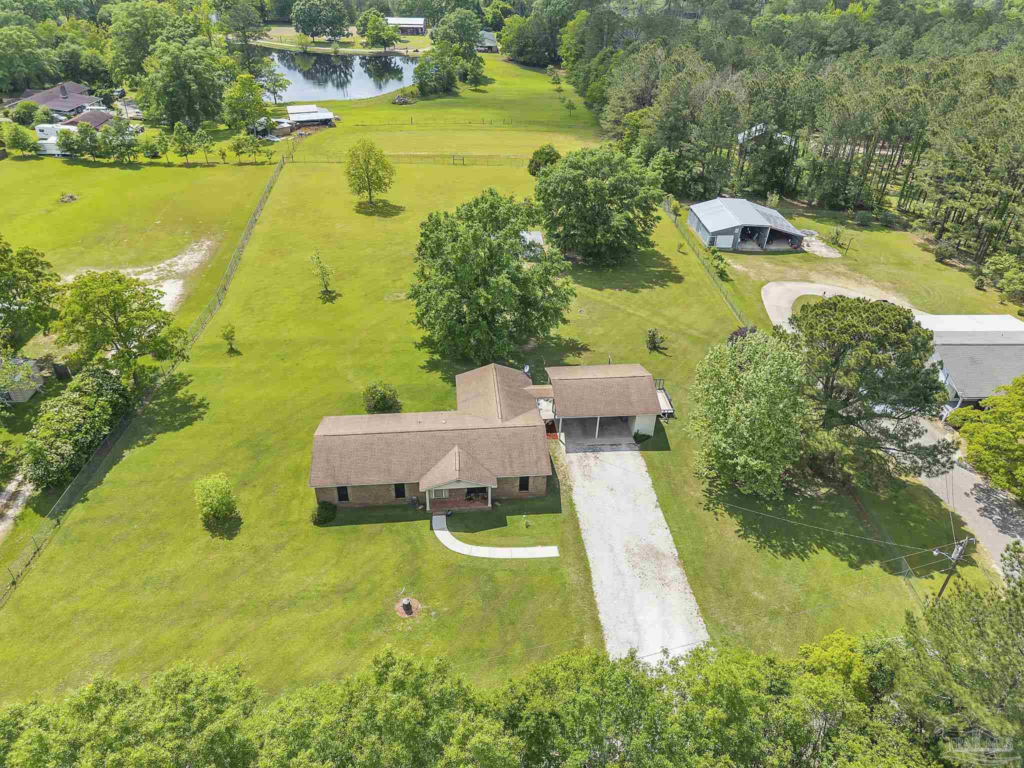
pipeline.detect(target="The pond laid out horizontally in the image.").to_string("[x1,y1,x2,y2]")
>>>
[230,42,424,101]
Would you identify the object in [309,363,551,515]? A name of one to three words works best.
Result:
house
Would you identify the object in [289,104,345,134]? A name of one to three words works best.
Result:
shed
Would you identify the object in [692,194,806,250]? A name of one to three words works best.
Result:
barn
